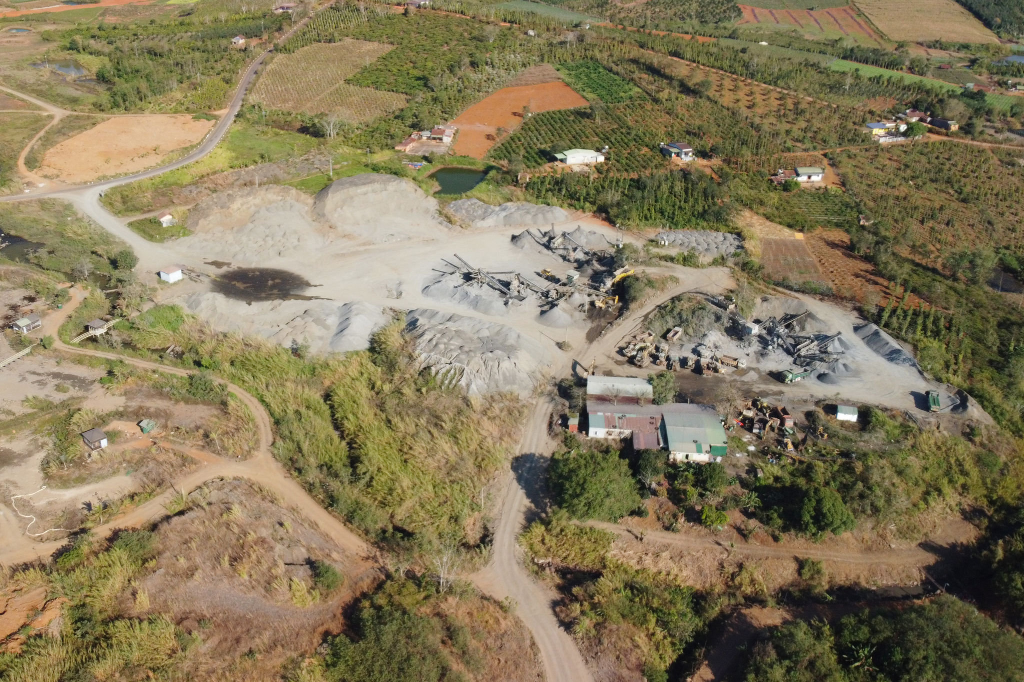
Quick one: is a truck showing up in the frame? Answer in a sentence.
Yes, you can see a truck in this photo.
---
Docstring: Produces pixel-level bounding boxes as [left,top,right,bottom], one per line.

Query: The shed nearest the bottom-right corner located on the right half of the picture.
[833,398,861,419]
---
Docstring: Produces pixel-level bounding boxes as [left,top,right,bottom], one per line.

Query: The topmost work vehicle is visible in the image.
[533,265,559,281]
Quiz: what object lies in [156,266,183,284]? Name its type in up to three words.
shed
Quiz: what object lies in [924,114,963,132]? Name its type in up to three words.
barn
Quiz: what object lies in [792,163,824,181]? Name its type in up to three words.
house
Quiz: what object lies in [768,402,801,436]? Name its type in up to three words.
truck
